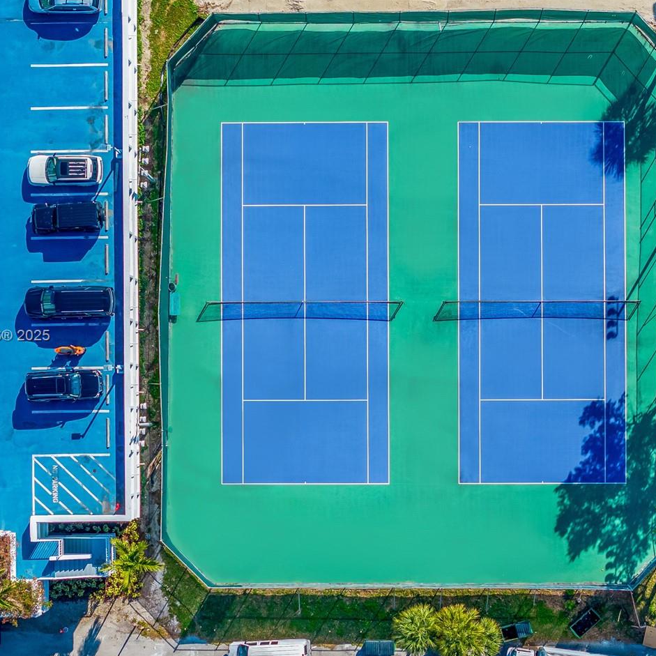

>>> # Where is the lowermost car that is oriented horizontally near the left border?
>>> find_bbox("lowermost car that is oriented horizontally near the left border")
[25,366,104,404]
